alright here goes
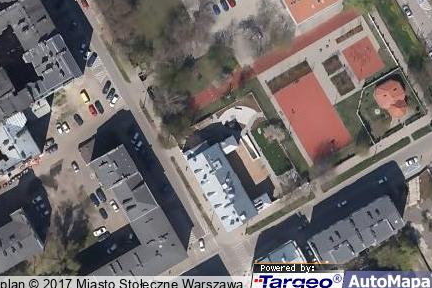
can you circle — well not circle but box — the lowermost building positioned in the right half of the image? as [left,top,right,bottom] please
[251,238,306,286]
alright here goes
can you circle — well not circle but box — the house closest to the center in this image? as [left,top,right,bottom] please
[186,135,271,234]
